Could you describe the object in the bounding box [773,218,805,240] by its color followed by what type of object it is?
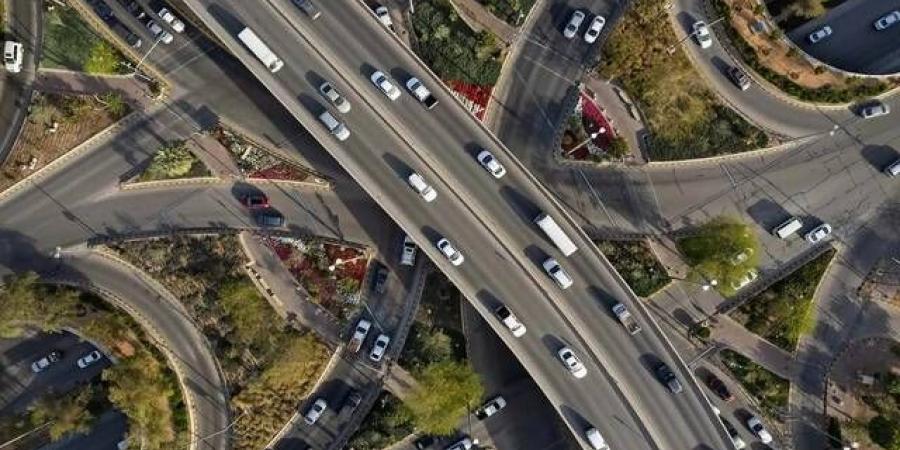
white vehicle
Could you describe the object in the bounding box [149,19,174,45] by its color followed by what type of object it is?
gray car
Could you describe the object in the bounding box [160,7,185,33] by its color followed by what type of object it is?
white car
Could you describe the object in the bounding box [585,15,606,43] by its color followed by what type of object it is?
white car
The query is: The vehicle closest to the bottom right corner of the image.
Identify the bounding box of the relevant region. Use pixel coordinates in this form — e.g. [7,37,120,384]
[745,416,769,442]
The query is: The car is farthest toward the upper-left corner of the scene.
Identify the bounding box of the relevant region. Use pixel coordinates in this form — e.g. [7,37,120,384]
[4,42,22,71]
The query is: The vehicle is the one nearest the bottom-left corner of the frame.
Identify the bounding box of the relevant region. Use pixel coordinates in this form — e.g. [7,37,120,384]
[33,351,62,371]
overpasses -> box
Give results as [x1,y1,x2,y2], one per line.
[175,0,742,450]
